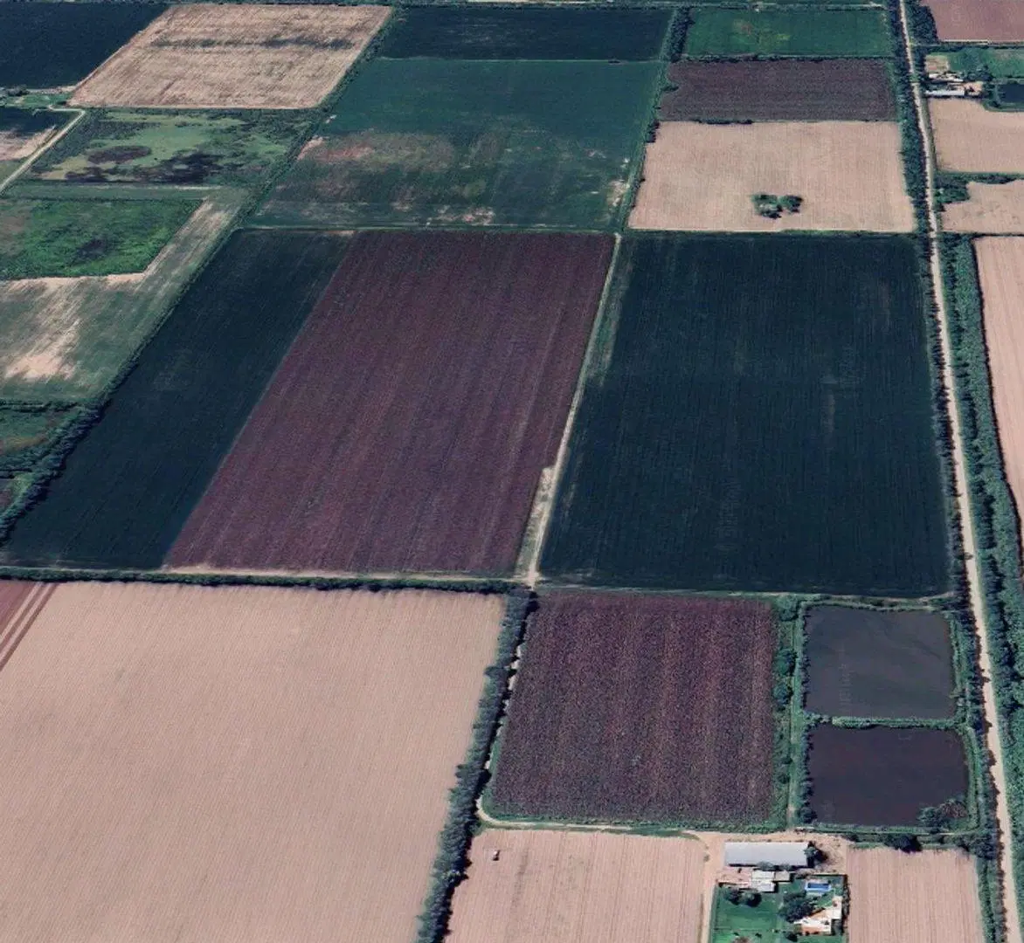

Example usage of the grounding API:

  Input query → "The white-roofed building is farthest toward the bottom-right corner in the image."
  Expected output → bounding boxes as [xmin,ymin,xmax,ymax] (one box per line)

[795,897,844,941]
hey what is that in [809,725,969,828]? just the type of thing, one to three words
pond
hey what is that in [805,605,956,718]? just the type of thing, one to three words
pond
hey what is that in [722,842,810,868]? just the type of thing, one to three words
shed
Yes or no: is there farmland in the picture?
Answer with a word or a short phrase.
Yes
